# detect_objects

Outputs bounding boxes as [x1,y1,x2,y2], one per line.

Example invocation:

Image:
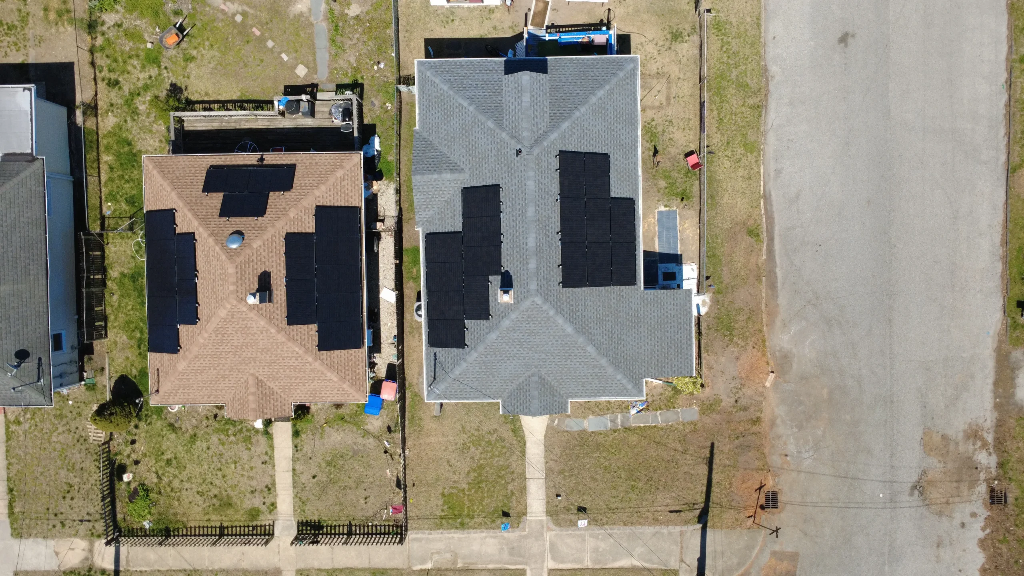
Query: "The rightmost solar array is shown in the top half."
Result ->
[556,152,636,287]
